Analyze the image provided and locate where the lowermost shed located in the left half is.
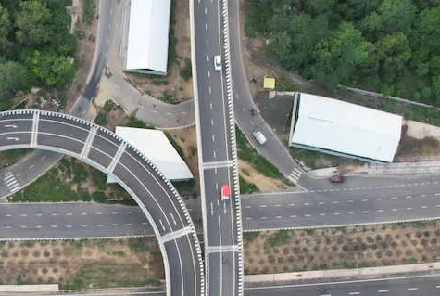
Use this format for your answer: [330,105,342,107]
[104,126,194,183]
